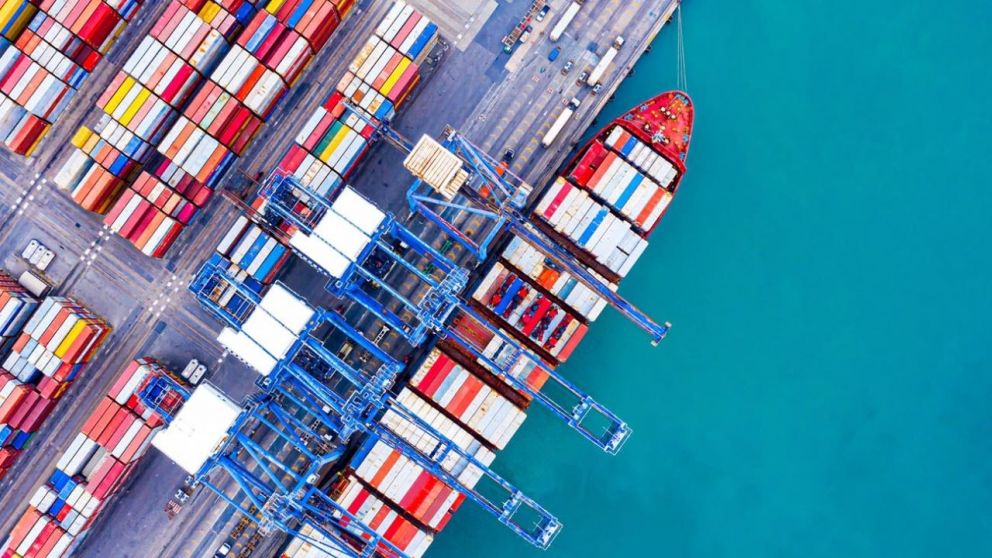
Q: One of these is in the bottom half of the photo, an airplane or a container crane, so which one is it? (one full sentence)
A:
It is a container crane that can be seen in the bottom half of the photo.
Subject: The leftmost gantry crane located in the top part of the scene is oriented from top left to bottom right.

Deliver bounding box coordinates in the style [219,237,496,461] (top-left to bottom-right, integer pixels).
[216,164,318,249]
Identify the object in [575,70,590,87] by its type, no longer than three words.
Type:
vehicle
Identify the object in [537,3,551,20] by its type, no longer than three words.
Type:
vehicle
